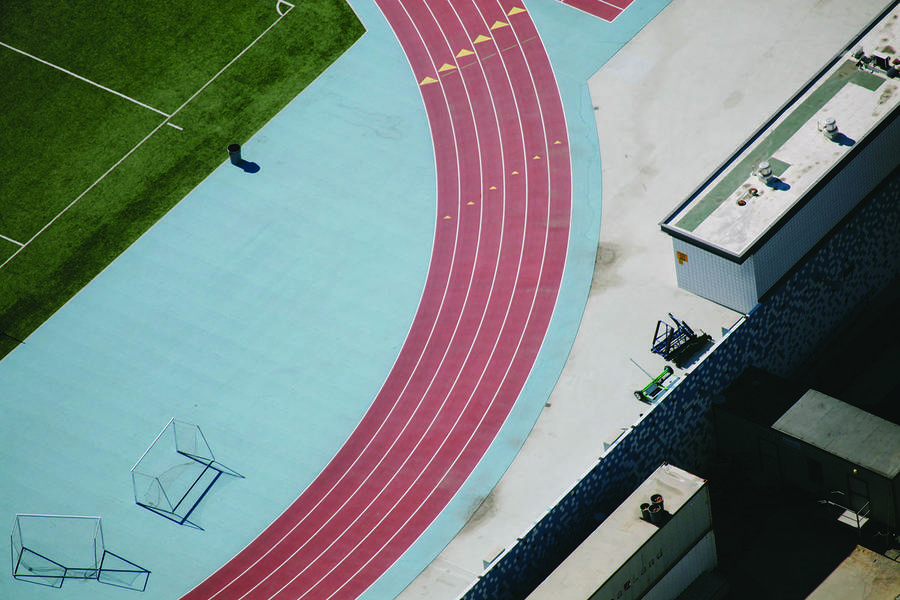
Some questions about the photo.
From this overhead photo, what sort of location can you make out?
sports ground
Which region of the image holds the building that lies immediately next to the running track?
top right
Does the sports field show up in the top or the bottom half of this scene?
top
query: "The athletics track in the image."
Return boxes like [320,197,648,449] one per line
[0,0,671,600]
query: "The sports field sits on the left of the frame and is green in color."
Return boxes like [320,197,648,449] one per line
[0,0,368,364]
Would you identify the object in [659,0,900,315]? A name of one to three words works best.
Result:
building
